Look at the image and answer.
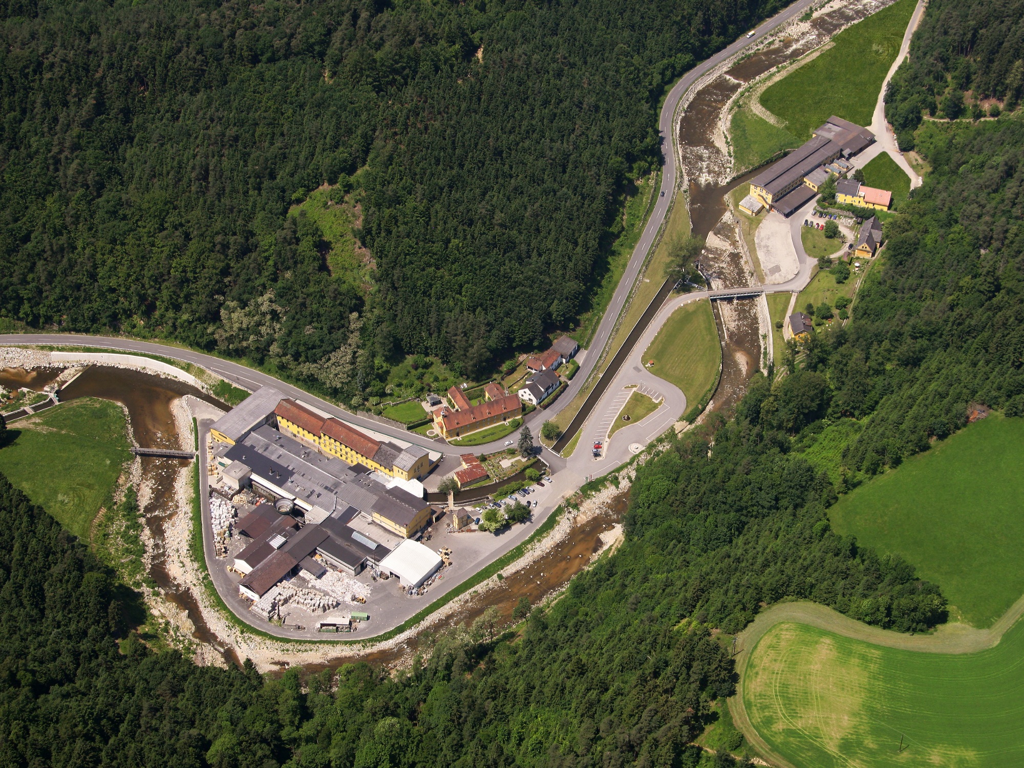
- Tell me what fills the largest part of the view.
trees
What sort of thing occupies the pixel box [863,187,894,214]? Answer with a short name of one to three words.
house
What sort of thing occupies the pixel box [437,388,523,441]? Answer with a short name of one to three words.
building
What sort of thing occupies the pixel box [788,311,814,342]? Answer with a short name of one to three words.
house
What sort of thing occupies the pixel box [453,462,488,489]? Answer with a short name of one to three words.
shed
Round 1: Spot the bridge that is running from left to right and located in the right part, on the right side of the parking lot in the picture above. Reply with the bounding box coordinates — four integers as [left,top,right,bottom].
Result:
[708,284,765,299]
